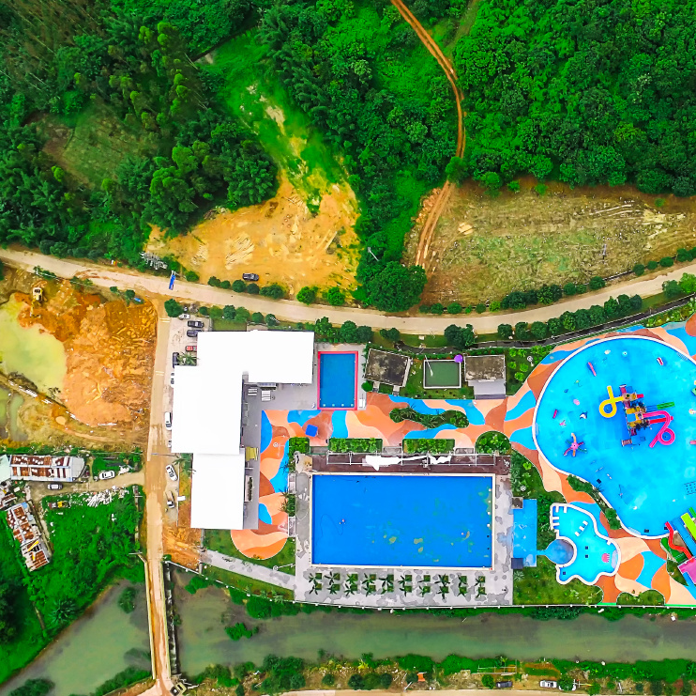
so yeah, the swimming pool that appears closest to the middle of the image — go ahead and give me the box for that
[317,351,358,410]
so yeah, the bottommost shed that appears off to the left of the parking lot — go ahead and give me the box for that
[8,501,55,570]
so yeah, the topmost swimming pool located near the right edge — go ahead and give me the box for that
[532,334,696,539]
